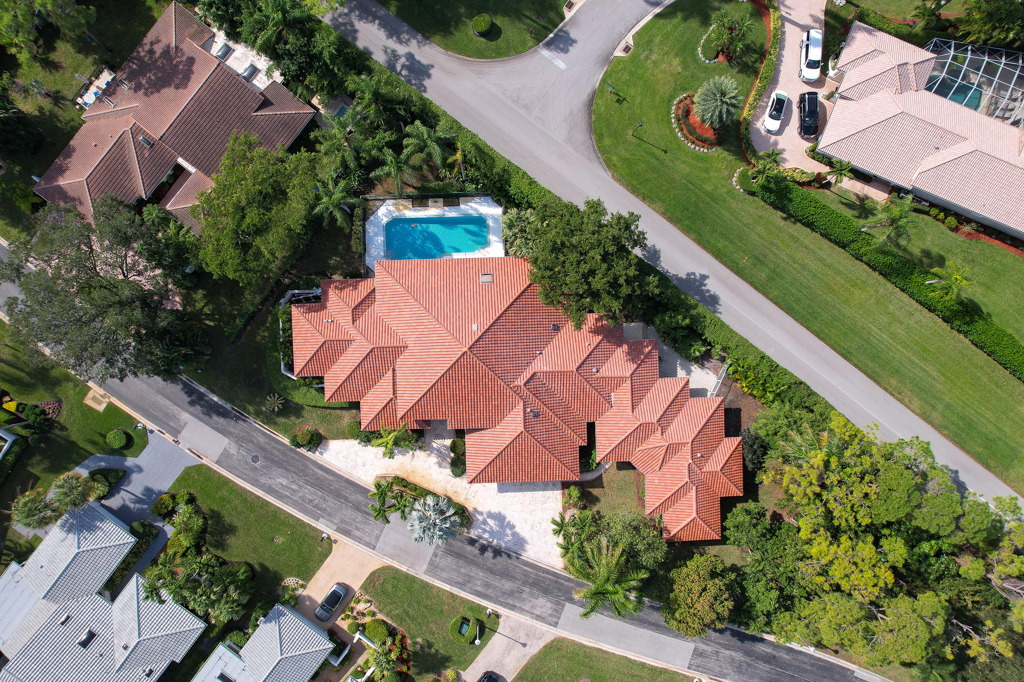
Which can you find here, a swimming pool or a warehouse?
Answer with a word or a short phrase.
swimming pool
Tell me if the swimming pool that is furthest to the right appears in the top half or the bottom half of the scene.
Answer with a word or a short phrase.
top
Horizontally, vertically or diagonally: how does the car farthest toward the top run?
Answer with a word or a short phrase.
vertically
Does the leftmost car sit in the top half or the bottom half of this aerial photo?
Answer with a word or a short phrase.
bottom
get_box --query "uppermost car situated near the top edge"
[796,27,825,84]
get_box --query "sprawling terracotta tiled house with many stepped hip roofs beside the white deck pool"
[290,256,745,543]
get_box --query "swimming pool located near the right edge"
[926,71,985,108]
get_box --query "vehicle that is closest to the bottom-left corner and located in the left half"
[313,577,350,626]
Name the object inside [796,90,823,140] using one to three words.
car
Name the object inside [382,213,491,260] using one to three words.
swimming pool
